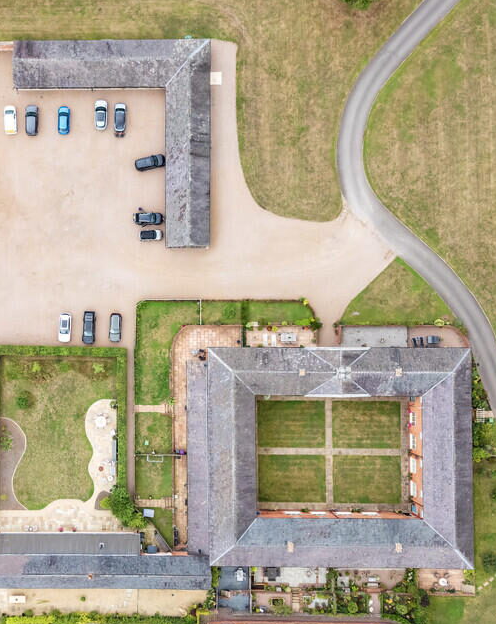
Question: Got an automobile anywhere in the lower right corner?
No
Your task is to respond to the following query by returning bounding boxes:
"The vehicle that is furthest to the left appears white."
[3,106,17,136]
